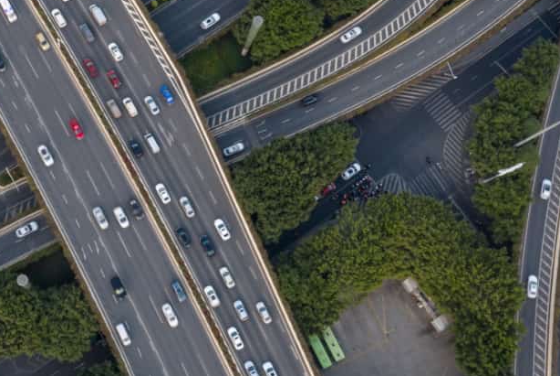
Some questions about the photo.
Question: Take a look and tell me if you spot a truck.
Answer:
Yes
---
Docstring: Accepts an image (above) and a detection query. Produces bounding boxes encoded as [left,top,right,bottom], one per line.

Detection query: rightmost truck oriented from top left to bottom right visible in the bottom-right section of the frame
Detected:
[407,280,448,331]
